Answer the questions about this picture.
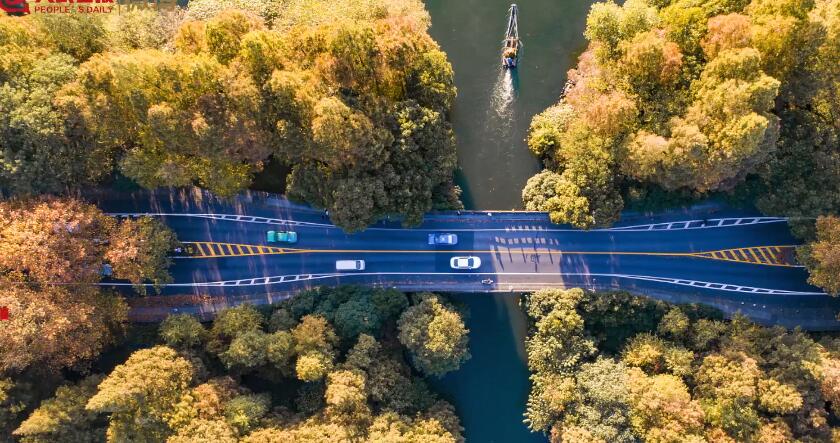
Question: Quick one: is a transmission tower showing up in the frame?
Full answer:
No, there is no transmission tower in the image.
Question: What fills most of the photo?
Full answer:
What you mostly see from above here is trees.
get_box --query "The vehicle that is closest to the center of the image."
[427,231,457,245]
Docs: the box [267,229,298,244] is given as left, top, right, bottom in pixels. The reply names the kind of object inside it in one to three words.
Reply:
car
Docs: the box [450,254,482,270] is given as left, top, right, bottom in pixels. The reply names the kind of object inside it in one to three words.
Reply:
car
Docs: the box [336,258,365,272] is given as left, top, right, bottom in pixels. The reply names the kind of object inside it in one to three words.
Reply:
vehicle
